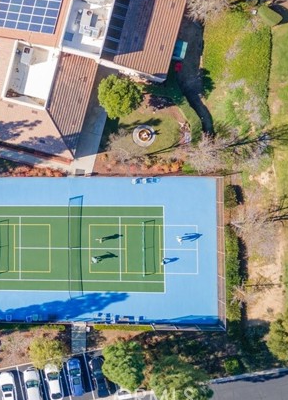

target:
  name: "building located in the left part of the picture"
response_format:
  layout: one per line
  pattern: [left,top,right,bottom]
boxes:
[0,0,188,167]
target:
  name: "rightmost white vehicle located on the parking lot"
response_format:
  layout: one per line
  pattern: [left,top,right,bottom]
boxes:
[45,362,64,400]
